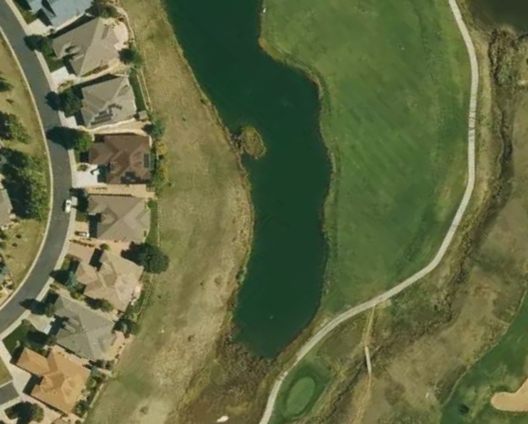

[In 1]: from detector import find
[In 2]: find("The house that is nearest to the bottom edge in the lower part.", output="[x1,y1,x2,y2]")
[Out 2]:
[14,347,90,411]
